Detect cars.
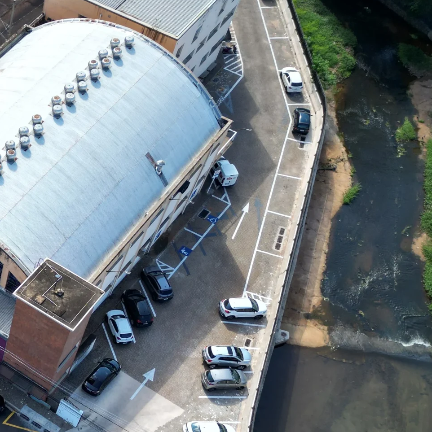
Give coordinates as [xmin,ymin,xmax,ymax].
[120,288,156,330]
[196,368,250,393]
[200,341,254,368]
[215,293,268,318]
[291,108,314,137]
[279,67,304,95]
[181,422,236,432]
[83,358,125,398]
[138,266,178,306]
[103,307,136,348]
